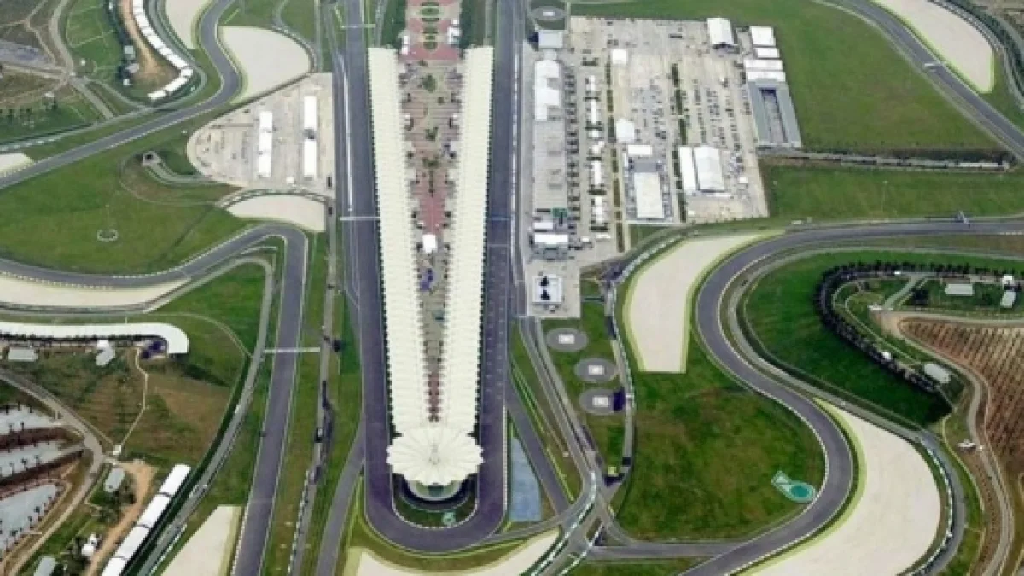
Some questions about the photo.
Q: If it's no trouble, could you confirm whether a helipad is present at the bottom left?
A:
No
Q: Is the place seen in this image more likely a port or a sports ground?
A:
sports ground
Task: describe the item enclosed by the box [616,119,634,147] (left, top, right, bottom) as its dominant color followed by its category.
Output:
white tent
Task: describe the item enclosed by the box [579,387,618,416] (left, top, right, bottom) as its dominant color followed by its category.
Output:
gray helipad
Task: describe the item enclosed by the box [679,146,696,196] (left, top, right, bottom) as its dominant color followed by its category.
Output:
white tent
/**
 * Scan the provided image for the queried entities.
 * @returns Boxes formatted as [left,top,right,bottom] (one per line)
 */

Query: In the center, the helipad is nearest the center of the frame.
[546,326,589,352]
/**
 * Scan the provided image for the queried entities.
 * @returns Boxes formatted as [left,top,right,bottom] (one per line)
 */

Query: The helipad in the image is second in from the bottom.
[573,356,618,383]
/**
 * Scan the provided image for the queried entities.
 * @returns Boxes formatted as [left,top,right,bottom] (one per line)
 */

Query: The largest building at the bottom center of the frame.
[384,425,482,505]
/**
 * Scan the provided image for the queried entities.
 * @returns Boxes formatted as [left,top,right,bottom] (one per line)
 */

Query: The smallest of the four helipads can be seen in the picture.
[531,6,565,21]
